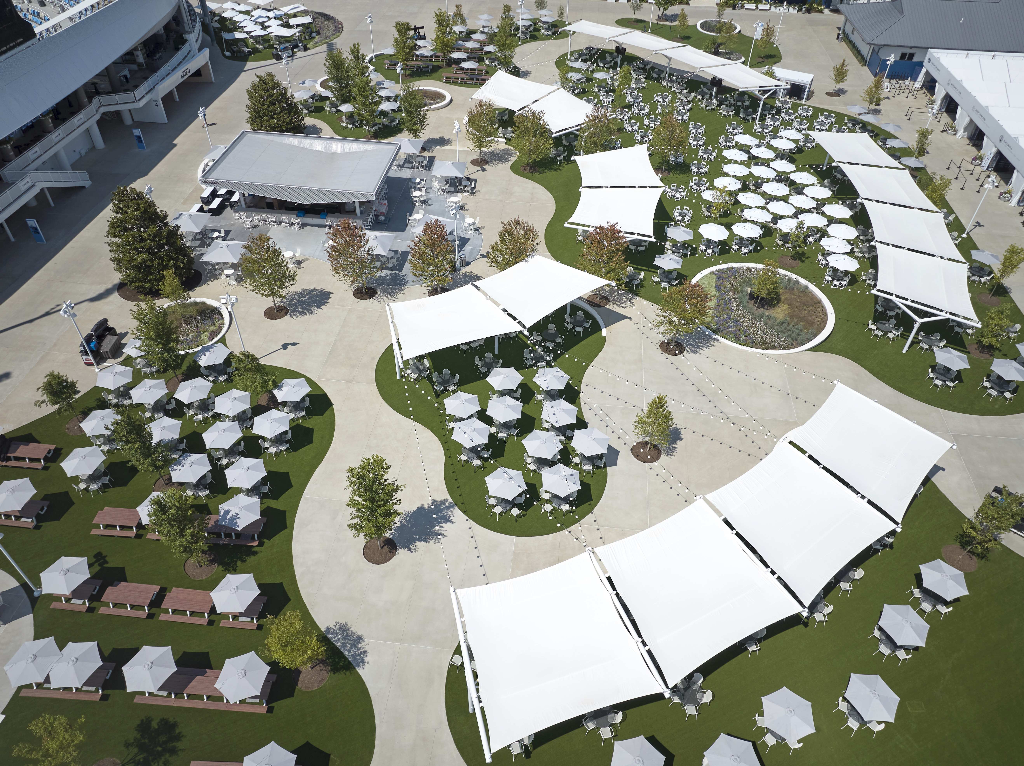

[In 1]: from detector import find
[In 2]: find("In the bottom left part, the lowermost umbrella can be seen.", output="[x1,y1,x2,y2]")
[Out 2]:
[249,739,302,766]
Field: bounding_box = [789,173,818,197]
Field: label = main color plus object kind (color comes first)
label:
white umbrella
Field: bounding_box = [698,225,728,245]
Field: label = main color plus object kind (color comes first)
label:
white umbrella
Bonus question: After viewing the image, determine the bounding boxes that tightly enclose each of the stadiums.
[0,0,214,242]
